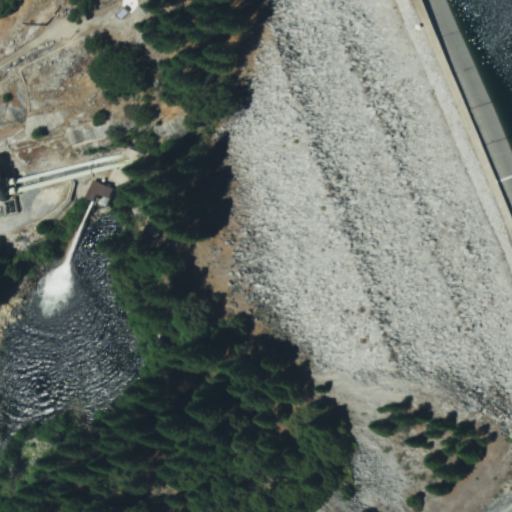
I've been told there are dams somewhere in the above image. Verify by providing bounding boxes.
[229,0,512,414]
